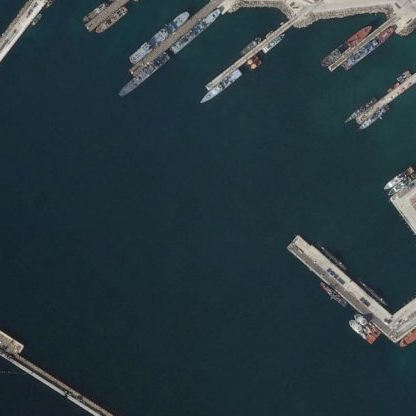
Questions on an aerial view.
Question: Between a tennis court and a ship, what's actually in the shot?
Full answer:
Visible in the photo is a ship.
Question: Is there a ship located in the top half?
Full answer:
Yes, a ship appears in the top half.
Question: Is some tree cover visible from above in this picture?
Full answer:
No, there is no tree cover in the image.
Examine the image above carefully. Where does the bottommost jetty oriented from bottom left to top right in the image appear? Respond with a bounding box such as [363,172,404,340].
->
[355,74,416,125]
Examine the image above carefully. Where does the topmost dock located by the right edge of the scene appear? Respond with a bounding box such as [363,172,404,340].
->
[327,14,400,72]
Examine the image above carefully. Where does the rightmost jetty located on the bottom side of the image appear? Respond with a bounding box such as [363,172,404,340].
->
[287,236,416,343]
